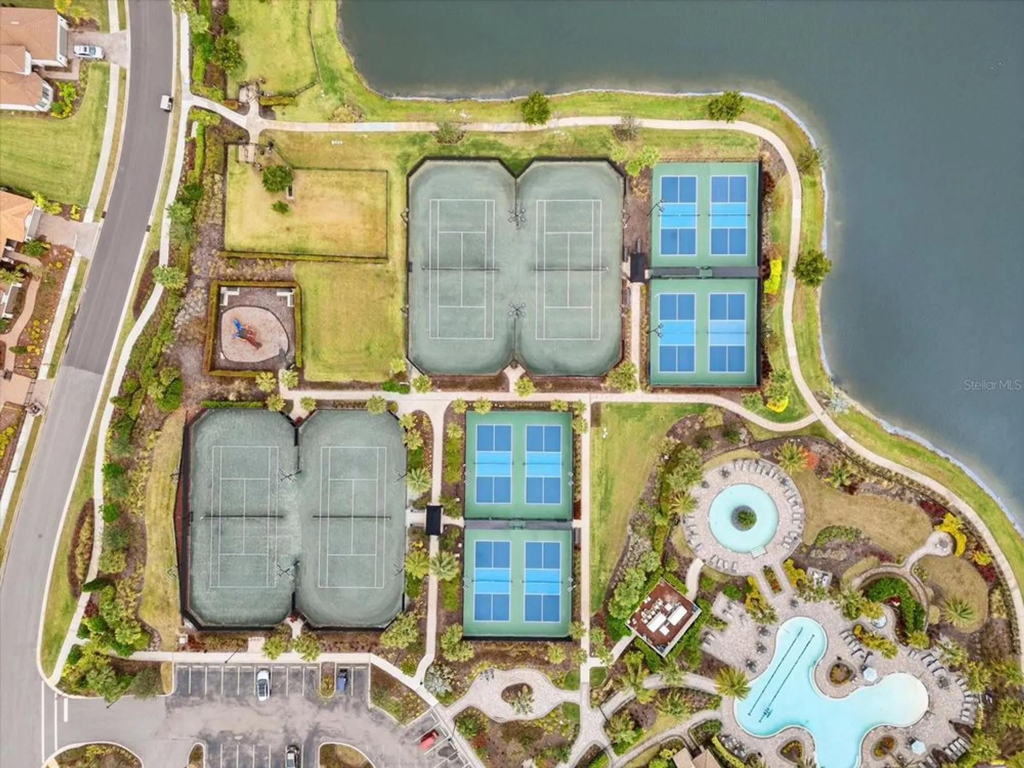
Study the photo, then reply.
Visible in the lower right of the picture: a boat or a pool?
pool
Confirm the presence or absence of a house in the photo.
Yes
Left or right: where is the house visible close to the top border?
left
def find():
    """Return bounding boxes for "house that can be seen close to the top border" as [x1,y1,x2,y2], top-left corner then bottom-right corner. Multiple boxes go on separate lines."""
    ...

[0,7,67,111]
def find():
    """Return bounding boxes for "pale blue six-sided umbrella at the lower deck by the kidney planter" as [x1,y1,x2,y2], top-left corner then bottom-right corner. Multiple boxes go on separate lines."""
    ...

[908,737,925,753]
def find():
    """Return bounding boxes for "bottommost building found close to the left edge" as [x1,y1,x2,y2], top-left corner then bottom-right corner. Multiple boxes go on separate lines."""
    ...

[0,186,37,264]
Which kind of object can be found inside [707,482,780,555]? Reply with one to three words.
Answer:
swimming pool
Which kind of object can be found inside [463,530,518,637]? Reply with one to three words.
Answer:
sports court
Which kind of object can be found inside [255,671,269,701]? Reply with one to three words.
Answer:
car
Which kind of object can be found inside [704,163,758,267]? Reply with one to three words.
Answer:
sports court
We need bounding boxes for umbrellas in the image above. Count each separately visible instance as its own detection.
[862,666,877,681]
[908,737,925,753]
